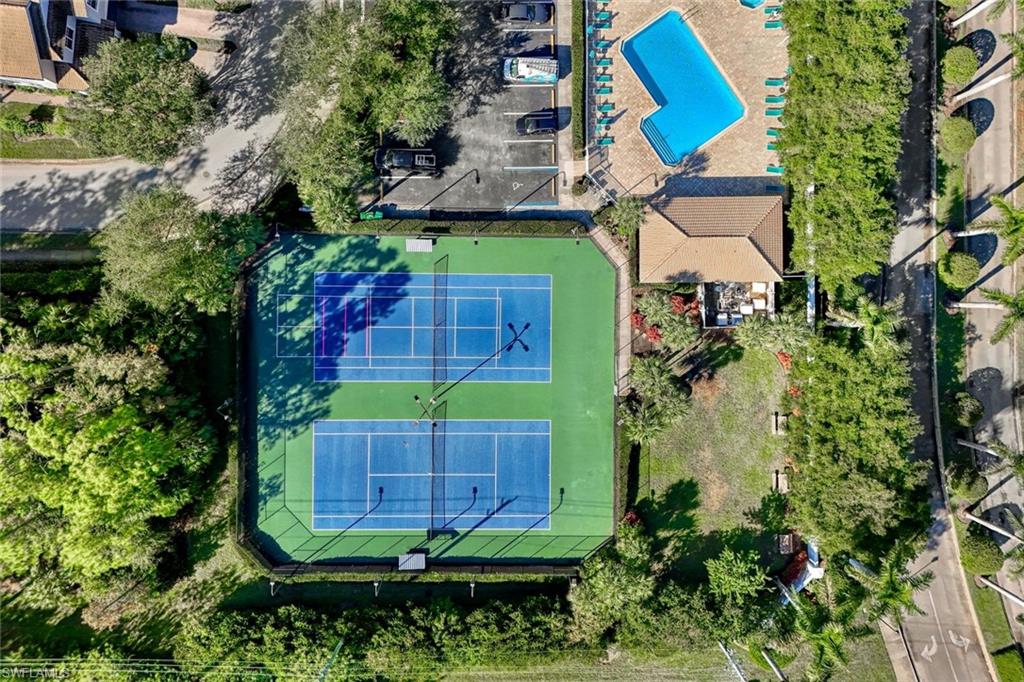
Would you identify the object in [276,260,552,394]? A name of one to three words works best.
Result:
tennis court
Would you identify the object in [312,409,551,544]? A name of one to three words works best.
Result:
tennis court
